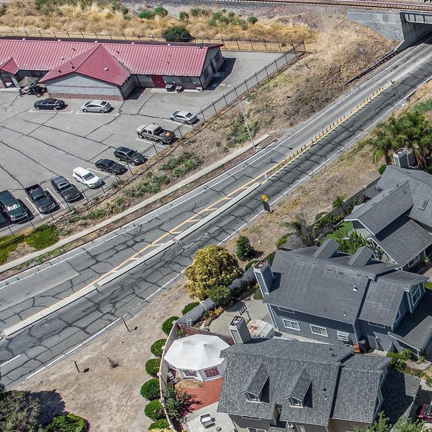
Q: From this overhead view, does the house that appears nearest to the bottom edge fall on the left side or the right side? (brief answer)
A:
right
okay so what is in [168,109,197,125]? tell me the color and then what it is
gray car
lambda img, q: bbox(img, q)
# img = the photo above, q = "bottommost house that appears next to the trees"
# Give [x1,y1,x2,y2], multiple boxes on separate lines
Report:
[217,317,421,432]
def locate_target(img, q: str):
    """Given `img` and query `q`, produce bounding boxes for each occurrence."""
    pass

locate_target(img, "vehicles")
[22,187,54,213]
[51,177,80,201]
[69,166,101,189]
[0,196,25,221]
[417,405,432,423]
[93,157,125,177]
[80,99,111,112]
[168,109,197,125]
[113,145,144,165]
[32,97,64,110]
[136,124,173,145]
